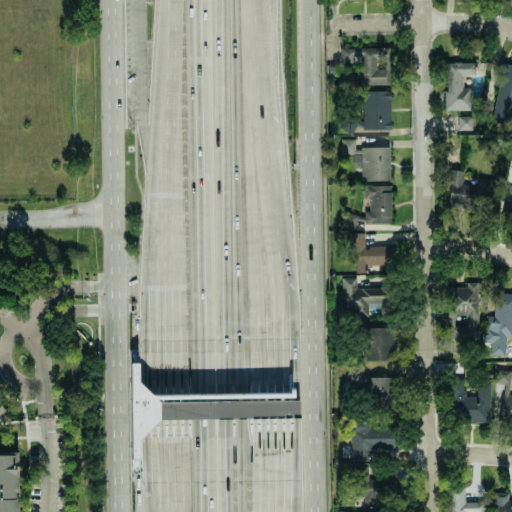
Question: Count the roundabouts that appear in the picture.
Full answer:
The picture shows no roundabouts.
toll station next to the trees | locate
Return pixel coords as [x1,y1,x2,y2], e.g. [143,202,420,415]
[132,364,302,462]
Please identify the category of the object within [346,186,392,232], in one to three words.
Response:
house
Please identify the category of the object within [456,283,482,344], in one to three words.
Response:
house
